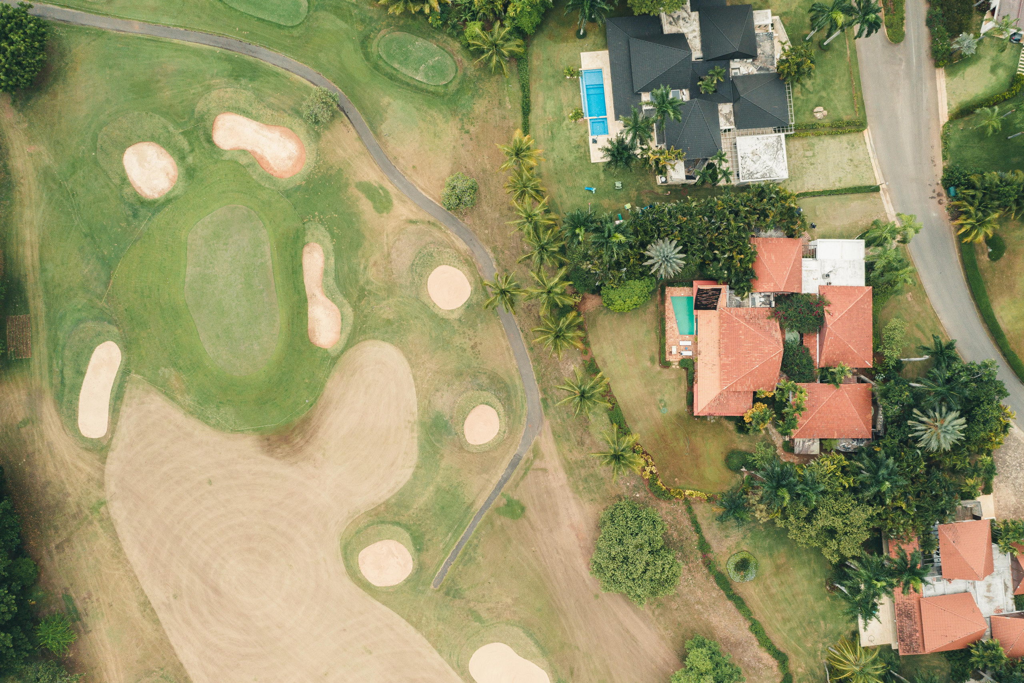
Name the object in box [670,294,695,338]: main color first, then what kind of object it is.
green swimming pool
